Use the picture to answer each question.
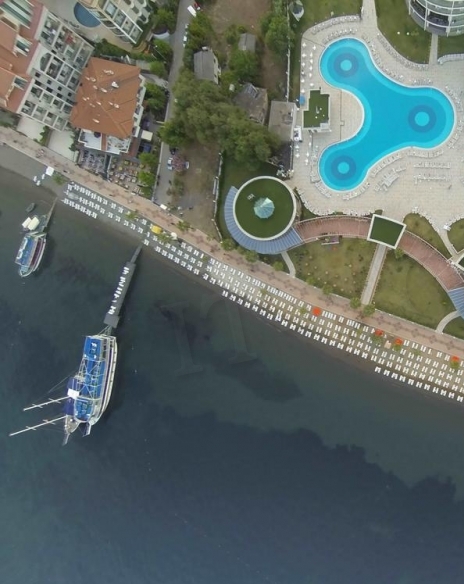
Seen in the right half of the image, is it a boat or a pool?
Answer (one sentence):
The feature located in the right half of the image is a pool.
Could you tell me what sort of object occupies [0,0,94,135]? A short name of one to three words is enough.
building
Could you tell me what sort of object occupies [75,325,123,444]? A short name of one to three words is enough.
boat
